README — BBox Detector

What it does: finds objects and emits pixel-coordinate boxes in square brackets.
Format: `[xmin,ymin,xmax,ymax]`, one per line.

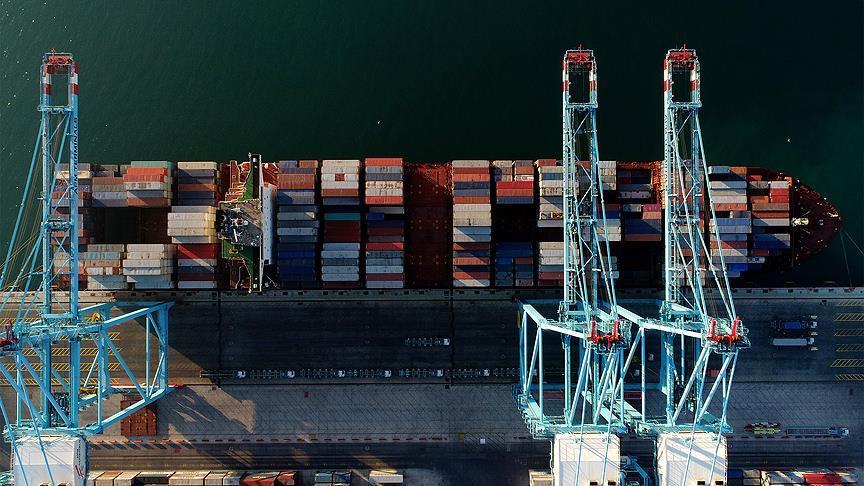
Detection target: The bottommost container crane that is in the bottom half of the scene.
[618,442,652,486]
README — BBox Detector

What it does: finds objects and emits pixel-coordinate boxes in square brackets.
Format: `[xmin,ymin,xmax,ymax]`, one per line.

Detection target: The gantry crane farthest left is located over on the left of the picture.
[0,46,190,486]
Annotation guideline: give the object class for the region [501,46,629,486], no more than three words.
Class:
container crane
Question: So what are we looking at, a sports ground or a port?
port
